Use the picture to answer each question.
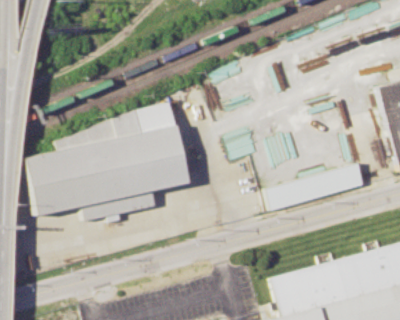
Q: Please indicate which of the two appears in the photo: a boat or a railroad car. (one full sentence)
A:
I can see a railroad car in this picture.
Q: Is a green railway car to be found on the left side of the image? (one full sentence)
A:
Yes, on the left side of the image there is a green railway car.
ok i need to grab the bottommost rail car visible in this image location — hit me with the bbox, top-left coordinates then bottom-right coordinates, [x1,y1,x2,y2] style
[40,95,75,114]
